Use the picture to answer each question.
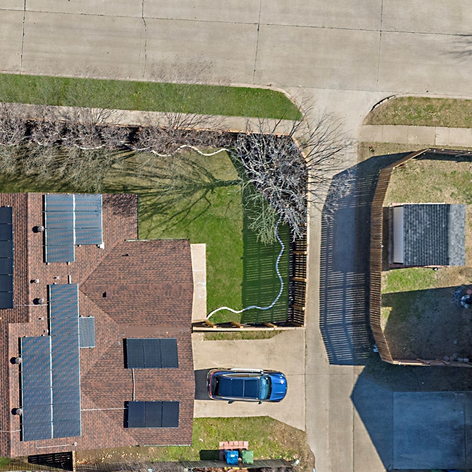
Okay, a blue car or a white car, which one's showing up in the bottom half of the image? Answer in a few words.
blue car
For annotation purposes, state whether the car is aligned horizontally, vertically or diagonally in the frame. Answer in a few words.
horizontally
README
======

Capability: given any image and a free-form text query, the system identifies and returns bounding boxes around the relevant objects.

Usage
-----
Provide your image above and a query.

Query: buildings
[391,204,465,265]
[0,191,194,458]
